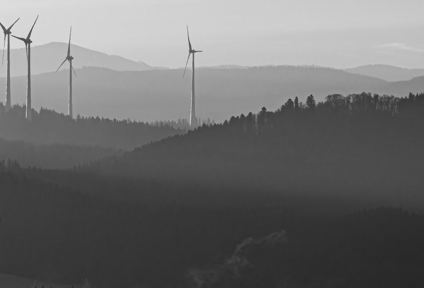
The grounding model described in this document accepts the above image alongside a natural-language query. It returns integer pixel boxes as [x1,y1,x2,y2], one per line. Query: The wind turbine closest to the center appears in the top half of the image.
[180,27,202,136]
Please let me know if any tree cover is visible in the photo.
Yes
